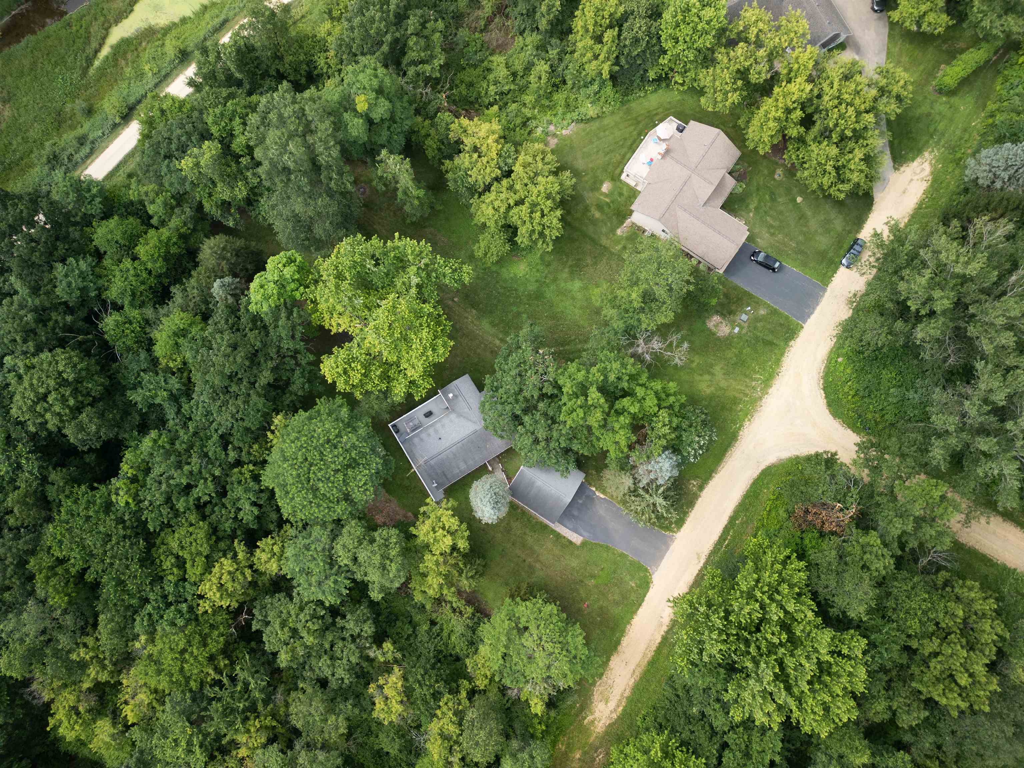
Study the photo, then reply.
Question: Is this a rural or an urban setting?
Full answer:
From above, the setting appears rural.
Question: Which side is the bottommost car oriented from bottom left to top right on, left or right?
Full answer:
The bottommost car oriented from bottom left to top right is on the right side of the image.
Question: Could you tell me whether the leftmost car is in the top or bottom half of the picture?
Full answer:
The leftmost car sits in the top half of the picture.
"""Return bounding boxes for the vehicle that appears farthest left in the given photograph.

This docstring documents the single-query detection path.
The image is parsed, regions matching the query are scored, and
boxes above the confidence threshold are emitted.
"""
[751,251,782,271]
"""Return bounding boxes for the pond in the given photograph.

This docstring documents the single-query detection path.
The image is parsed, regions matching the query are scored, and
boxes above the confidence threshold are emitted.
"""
[86,0,205,74]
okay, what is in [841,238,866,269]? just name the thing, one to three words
car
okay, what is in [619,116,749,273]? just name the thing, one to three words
house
